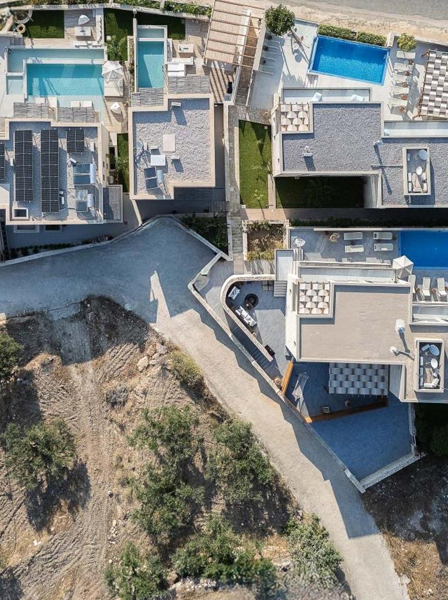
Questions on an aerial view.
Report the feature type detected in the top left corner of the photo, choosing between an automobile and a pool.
pool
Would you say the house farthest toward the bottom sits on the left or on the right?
right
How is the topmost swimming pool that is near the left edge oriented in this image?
from side to side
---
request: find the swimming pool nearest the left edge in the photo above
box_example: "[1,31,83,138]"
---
[6,76,25,95]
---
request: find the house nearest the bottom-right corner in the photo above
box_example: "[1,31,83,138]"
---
[239,249,448,402]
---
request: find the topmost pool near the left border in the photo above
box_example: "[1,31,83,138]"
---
[6,48,106,75]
